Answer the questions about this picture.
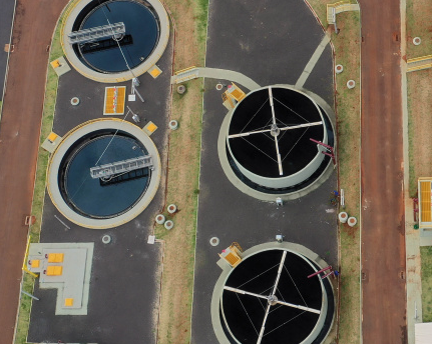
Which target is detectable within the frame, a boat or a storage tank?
storage tank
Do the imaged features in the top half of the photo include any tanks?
Yes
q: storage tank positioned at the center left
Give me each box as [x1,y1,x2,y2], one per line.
[47,117,161,229]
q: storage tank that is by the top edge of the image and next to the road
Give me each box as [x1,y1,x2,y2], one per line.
[61,0,171,84]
